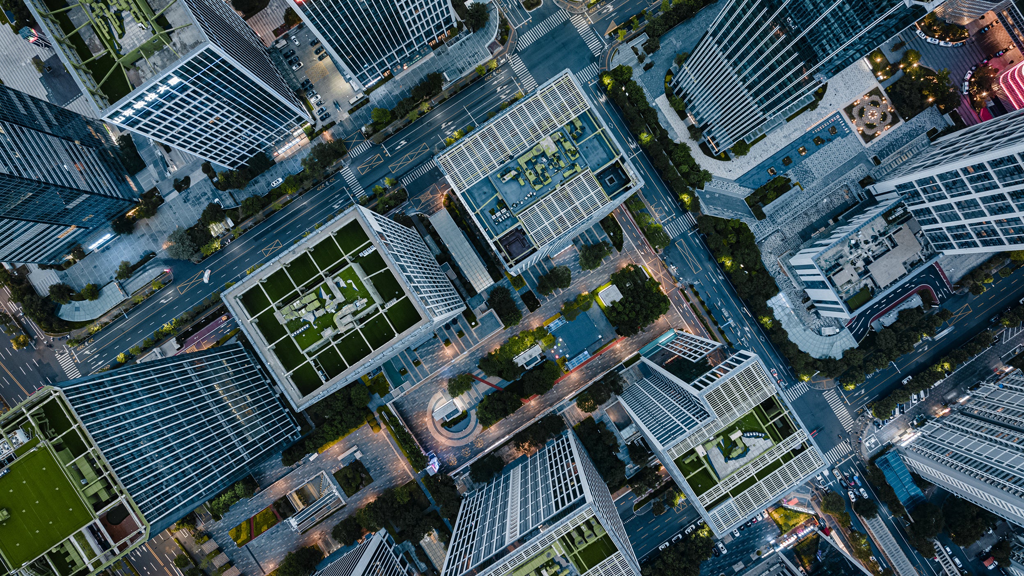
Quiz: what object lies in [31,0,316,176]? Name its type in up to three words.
building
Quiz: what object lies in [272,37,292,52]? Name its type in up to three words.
vehicle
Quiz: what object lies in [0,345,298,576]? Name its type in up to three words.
building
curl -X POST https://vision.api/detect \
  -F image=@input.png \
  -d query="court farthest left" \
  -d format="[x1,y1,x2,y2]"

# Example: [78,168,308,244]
[550,302,618,360]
